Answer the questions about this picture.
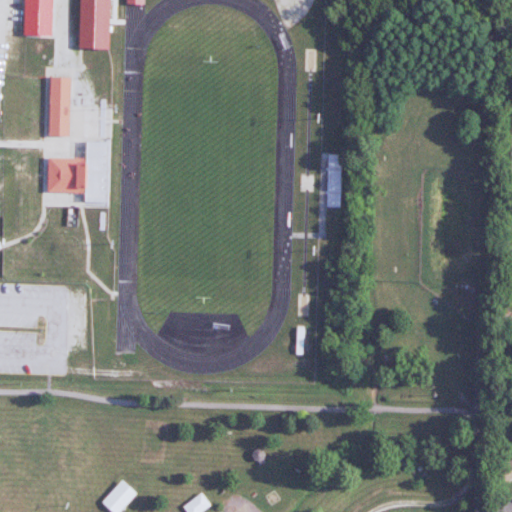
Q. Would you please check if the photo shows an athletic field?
Yes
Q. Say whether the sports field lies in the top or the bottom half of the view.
top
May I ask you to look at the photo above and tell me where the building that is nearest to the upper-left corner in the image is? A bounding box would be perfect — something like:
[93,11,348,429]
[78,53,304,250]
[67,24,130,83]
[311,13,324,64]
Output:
[23,0,52,36]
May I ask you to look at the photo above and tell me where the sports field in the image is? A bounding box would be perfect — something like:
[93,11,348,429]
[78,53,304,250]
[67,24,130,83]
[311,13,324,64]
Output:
[138,4,278,340]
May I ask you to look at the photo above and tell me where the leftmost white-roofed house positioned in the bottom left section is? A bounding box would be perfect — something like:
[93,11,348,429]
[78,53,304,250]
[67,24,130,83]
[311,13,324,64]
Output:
[102,480,138,512]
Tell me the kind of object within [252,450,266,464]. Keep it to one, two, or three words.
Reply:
gazebo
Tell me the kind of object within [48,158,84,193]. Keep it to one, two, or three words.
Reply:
building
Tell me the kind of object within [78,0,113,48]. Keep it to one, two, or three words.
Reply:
building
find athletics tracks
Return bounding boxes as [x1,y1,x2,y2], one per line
[116,0,296,373]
